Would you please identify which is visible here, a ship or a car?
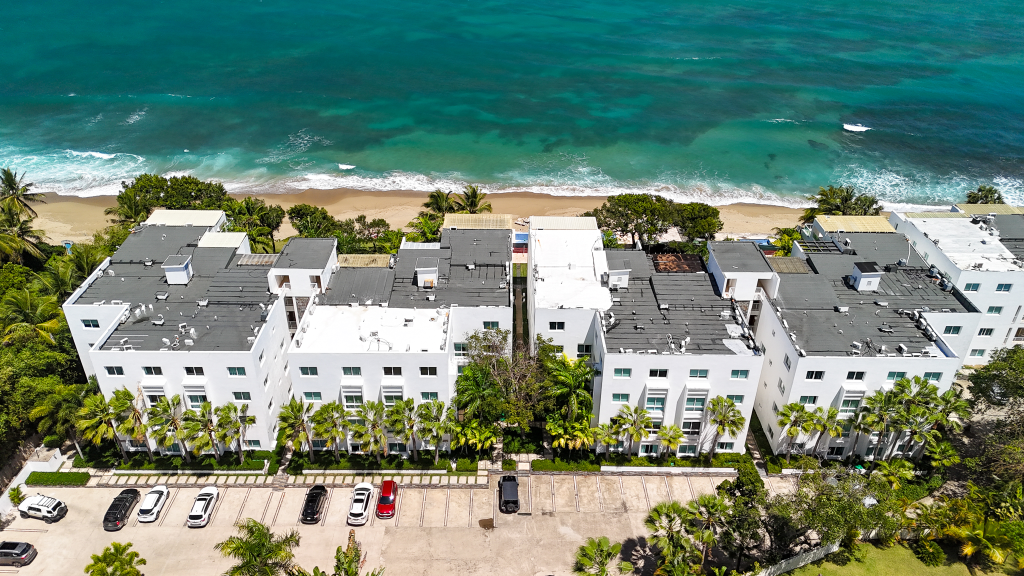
car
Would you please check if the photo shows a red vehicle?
Yes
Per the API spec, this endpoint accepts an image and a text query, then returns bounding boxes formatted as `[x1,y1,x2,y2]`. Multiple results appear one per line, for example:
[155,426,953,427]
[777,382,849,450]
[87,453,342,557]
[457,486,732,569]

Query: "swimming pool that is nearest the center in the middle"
[515,229,529,243]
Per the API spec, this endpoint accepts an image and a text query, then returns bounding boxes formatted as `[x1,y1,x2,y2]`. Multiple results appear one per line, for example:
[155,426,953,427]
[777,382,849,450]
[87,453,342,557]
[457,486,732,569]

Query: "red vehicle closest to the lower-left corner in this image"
[373,478,399,518]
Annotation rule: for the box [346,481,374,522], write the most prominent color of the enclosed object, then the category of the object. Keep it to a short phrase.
white car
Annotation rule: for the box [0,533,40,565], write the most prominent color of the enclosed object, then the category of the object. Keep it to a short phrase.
gray car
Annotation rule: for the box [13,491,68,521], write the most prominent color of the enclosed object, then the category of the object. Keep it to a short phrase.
white car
